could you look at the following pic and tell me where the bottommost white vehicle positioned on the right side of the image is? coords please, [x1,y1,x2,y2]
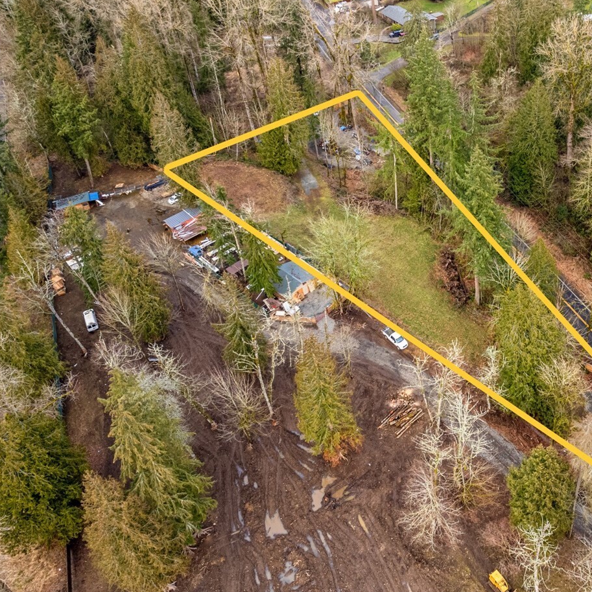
[381,327,407,347]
